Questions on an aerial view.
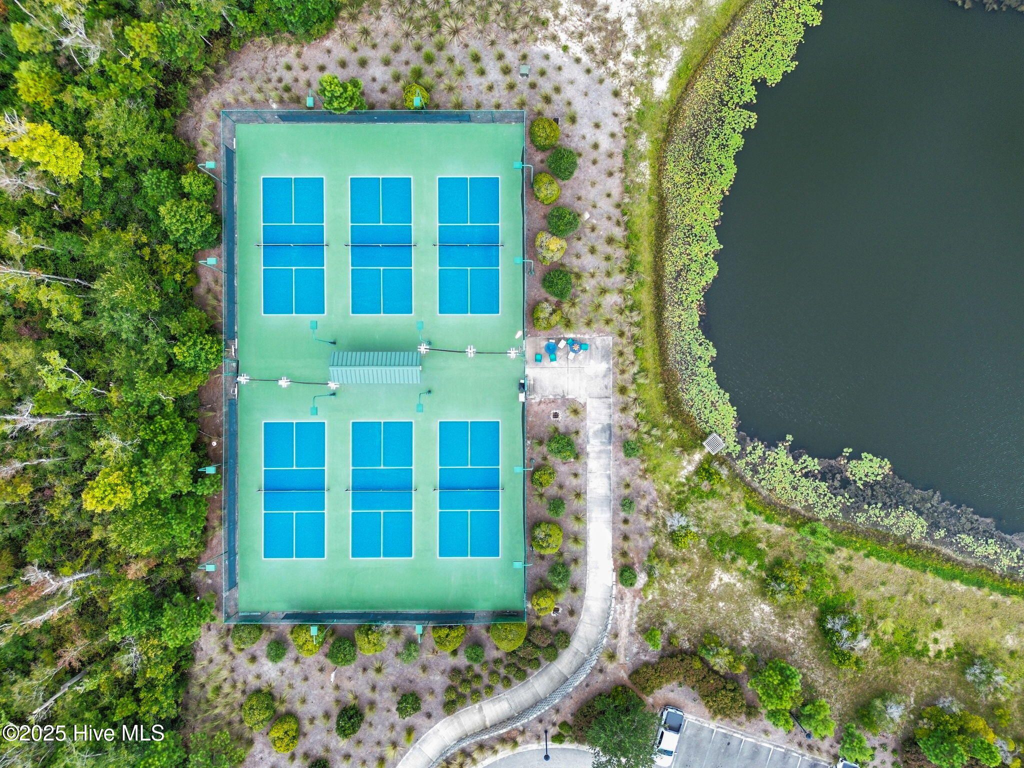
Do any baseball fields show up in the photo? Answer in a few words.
No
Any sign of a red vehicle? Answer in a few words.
No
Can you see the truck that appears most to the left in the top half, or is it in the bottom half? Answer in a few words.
bottom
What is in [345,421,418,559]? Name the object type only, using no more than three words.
sports court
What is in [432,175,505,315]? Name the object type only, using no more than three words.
sports court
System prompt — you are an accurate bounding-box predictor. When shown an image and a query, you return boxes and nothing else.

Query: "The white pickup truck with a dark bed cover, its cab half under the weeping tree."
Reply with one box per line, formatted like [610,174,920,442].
[648,698,687,762]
